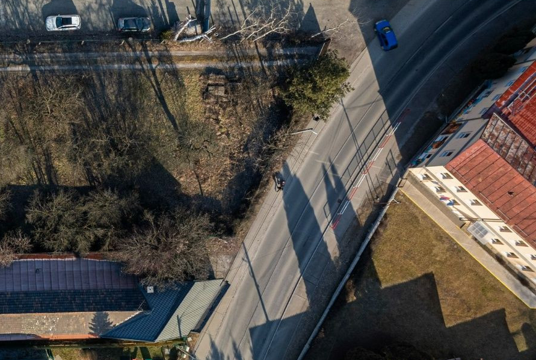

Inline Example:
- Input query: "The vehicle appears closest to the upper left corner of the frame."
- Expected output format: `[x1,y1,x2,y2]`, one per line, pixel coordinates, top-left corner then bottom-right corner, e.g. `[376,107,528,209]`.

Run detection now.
[45,14,82,33]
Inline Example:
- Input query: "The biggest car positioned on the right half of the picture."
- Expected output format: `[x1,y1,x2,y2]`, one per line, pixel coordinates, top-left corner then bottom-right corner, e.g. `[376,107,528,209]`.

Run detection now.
[372,19,396,53]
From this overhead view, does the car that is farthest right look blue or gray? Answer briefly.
blue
